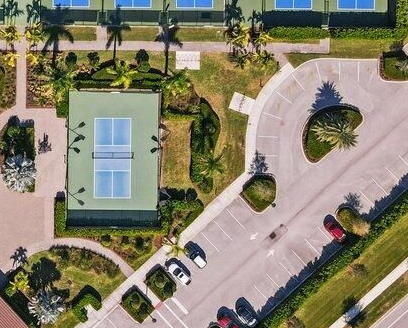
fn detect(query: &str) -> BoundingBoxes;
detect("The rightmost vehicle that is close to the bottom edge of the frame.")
[234,302,262,328]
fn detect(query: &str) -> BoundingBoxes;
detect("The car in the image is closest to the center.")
[184,247,209,272]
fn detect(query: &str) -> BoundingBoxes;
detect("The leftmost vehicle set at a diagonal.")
[165,260,193,287]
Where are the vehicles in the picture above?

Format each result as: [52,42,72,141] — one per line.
[184,247,209,272]
[234,302,262,328]
[217,312,241,328]
[321,217,348,244]
[165,260,193,287]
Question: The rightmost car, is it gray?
No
